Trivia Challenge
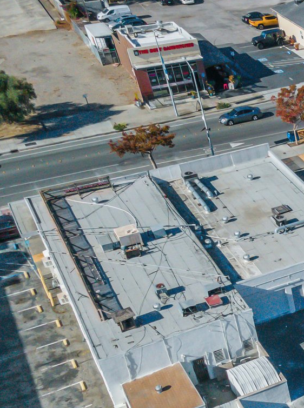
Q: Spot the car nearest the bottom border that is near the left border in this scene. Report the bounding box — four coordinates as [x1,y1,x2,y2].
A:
[0,221,17,238]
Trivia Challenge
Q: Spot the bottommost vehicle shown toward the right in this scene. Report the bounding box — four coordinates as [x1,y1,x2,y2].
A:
[218,105,264,125]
